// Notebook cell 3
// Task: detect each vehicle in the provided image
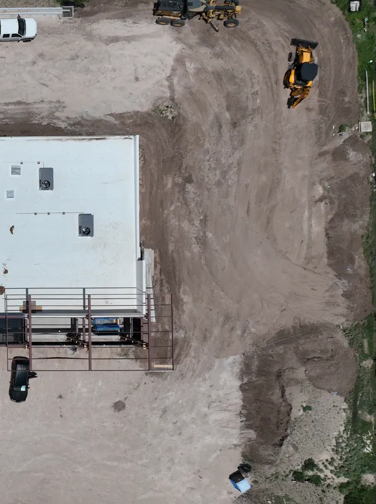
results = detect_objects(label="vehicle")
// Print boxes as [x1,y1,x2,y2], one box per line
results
[8,356,37,403]
[154,0,243,30]
[281,36,321,104]
[0,14,37,43]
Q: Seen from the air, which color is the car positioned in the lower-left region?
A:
black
